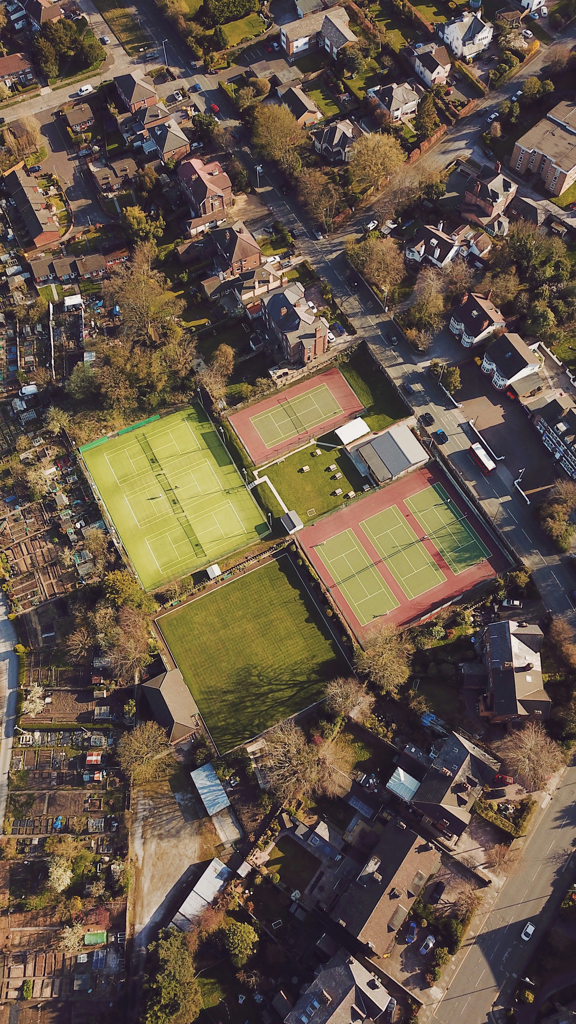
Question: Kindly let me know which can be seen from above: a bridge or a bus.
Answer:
bus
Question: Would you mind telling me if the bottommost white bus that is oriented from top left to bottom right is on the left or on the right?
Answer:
right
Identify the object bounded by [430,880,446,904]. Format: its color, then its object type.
black car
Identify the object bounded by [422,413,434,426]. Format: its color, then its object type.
black vehicle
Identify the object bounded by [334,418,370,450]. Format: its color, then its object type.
white tent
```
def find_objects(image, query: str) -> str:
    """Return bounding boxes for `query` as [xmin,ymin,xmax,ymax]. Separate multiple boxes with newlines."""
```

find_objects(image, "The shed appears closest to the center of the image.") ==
[281,511,304,535]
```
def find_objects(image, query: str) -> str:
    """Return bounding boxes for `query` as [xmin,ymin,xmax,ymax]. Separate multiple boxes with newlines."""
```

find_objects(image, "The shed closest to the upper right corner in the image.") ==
[499,7,525,27]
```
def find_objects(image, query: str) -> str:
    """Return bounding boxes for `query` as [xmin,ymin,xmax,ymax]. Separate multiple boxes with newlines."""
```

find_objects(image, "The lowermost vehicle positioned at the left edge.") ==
[18,381,39,396]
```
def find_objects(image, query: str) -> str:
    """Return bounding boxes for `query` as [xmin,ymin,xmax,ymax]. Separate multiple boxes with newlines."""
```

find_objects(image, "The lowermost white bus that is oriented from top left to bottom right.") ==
[468,439,501,479]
